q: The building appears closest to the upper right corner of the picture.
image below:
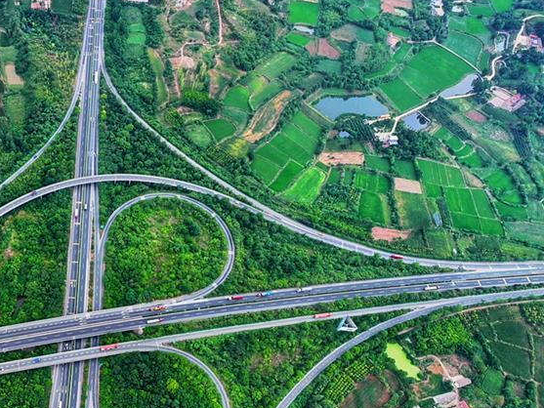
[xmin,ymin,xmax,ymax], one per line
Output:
[513,33,544,54]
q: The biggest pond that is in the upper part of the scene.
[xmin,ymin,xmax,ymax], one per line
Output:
[314,94,392,121]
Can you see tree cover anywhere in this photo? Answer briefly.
Yes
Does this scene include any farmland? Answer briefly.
Yes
